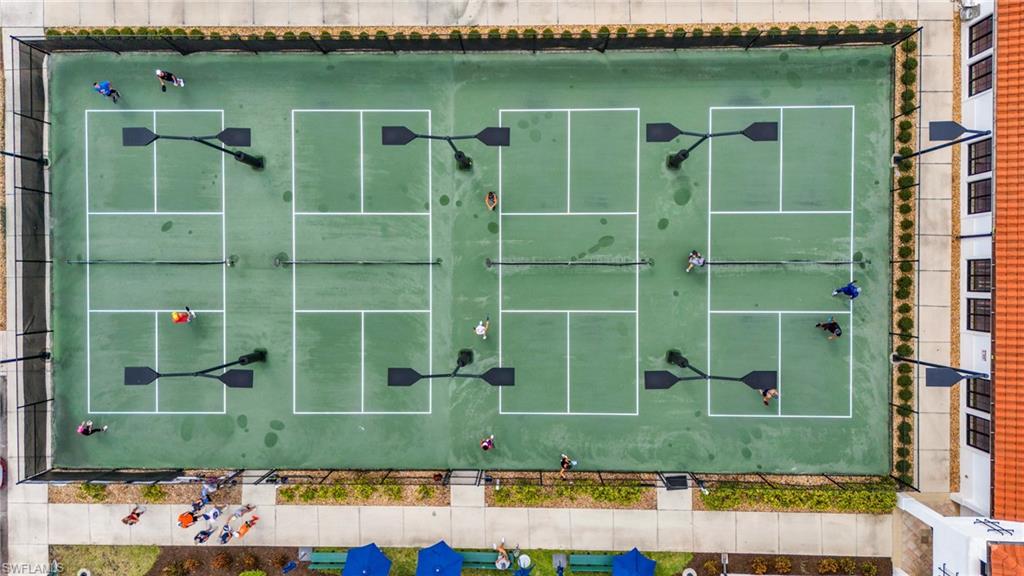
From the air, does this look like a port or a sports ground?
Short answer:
sports ground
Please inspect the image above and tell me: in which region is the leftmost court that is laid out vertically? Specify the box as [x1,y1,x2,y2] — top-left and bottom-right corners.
[86,110,226,413]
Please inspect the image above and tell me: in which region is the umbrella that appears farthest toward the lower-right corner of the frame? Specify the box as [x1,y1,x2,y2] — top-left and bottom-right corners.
[608,545,658,576]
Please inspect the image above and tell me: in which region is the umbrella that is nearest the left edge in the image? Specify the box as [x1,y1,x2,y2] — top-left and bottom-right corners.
[340,541,394,576]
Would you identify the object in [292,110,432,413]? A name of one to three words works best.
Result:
sports court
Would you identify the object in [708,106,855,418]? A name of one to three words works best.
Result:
sports court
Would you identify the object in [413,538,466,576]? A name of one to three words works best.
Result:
umbrella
